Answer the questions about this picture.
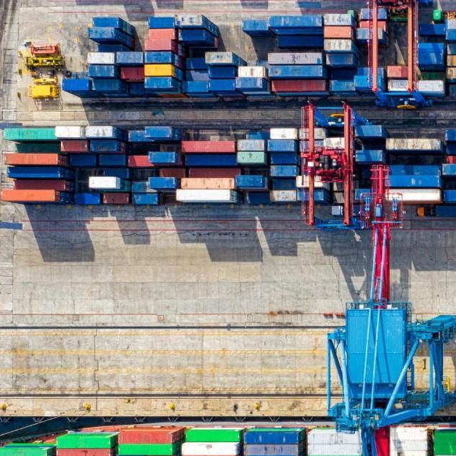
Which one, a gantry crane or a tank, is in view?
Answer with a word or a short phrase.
gantry crane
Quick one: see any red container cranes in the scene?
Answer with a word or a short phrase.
Yes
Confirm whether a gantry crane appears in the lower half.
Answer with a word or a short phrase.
Yes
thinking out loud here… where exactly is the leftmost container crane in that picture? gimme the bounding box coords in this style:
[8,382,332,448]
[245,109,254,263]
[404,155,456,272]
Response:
[303,102,374,229]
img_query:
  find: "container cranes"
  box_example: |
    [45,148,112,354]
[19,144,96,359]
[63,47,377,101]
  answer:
[366,0,433,112]
[303,102,374,229]
[322,164,456,456]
